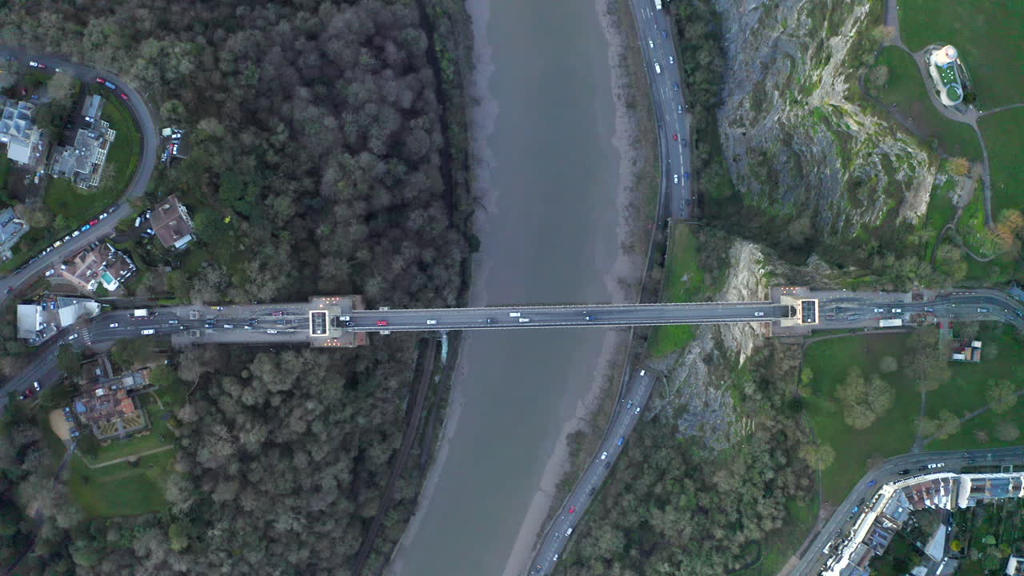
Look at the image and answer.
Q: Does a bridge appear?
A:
Yes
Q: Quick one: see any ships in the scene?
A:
No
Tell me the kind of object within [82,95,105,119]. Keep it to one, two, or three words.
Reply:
building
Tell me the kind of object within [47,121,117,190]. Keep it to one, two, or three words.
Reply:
house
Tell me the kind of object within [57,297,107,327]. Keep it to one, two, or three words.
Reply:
building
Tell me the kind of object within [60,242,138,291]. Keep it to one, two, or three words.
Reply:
house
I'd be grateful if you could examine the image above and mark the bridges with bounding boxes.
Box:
[201,285,917,349]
